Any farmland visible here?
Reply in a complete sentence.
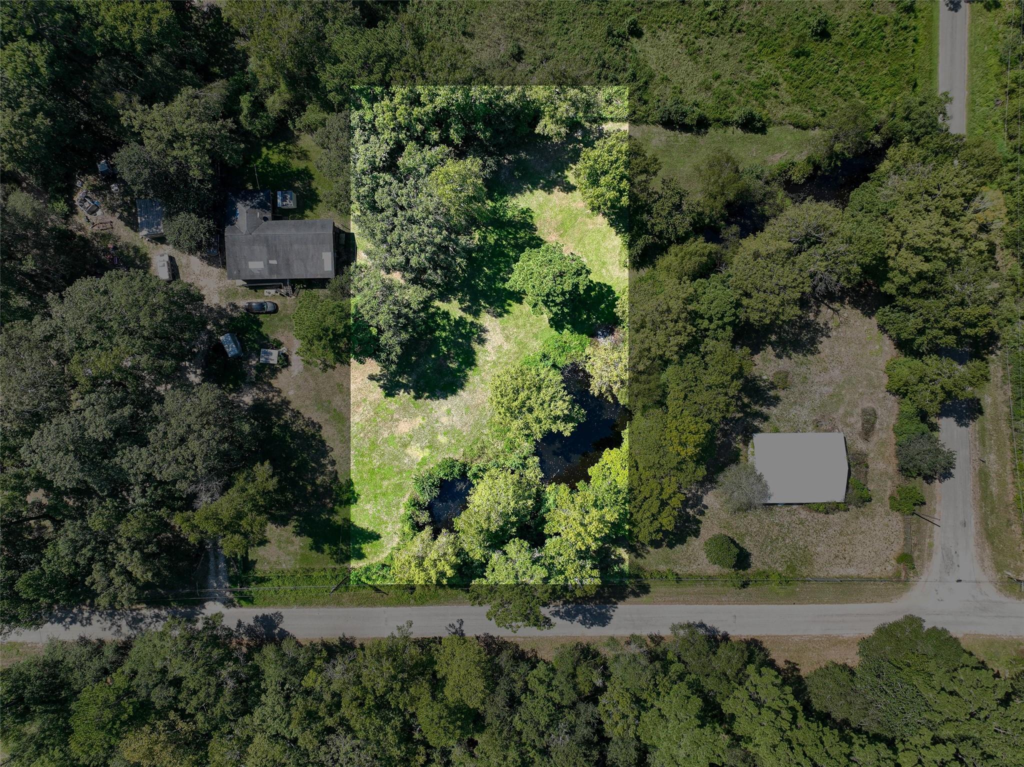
No, farmland can't be seen anywhere here.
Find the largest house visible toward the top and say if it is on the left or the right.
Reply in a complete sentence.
The largest house visible toward the top appears in the left half of the scene.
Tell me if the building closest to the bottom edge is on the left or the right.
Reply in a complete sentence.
The building closest to the bottom edge is on the right side of the image.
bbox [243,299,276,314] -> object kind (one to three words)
car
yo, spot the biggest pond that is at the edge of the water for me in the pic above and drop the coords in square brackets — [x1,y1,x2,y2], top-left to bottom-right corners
[531,325,642,494]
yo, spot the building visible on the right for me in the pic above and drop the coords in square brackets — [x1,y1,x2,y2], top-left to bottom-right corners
[741,433,846,505]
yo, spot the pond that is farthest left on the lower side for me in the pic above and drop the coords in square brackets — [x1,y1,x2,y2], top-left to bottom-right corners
[425,472,481,536]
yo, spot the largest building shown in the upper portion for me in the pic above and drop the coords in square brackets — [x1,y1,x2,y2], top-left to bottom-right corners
[221,191,336,297]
